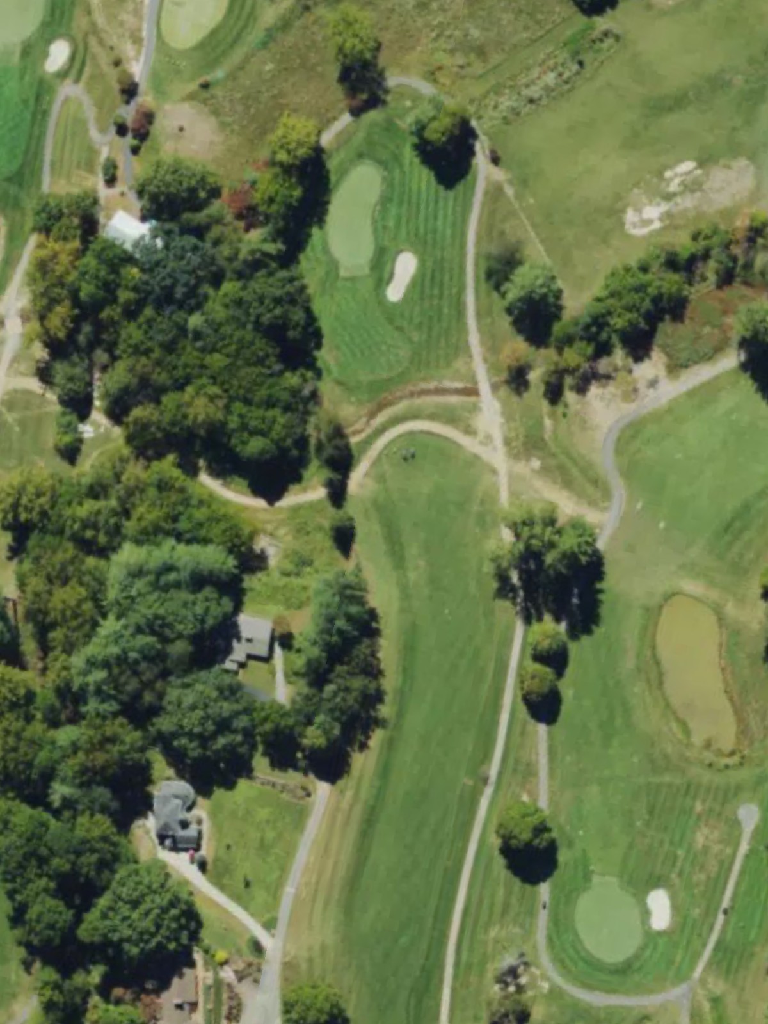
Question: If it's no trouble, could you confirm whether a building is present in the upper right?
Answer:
No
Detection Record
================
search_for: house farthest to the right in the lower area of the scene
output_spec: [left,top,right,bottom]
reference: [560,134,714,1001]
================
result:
[223,614,275,670]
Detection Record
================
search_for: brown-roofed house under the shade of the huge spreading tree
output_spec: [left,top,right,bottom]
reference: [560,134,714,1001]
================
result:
[154,966,201,1024]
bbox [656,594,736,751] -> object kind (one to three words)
pond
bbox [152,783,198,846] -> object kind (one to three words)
house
